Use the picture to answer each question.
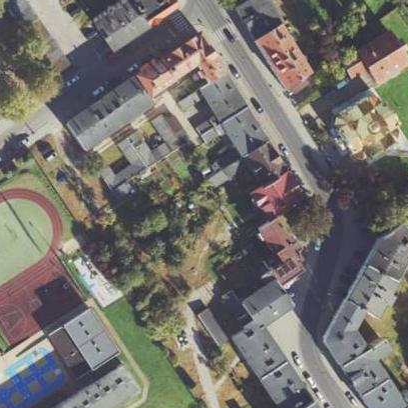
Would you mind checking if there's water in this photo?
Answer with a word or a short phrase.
No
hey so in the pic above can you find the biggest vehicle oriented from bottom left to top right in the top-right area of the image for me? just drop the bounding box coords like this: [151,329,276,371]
[333,77,350,91]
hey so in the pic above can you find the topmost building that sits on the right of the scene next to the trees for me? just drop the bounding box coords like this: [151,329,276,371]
[237,0,286,40]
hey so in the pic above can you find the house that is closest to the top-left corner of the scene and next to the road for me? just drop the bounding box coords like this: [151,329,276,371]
[93,0,152,54]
